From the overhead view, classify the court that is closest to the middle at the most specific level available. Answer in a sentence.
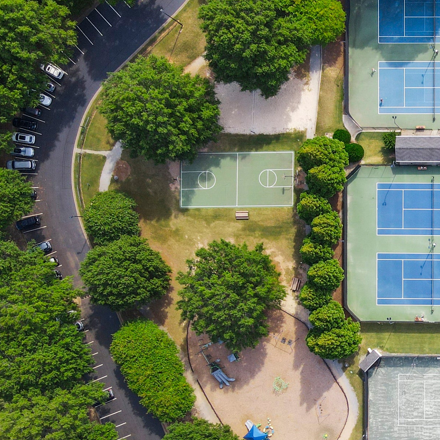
Specifically, the court that is closest to the middle is a basketball court.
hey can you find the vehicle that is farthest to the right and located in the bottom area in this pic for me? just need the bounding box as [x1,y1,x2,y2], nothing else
[90,390,114,405]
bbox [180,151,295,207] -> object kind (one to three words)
basketball court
